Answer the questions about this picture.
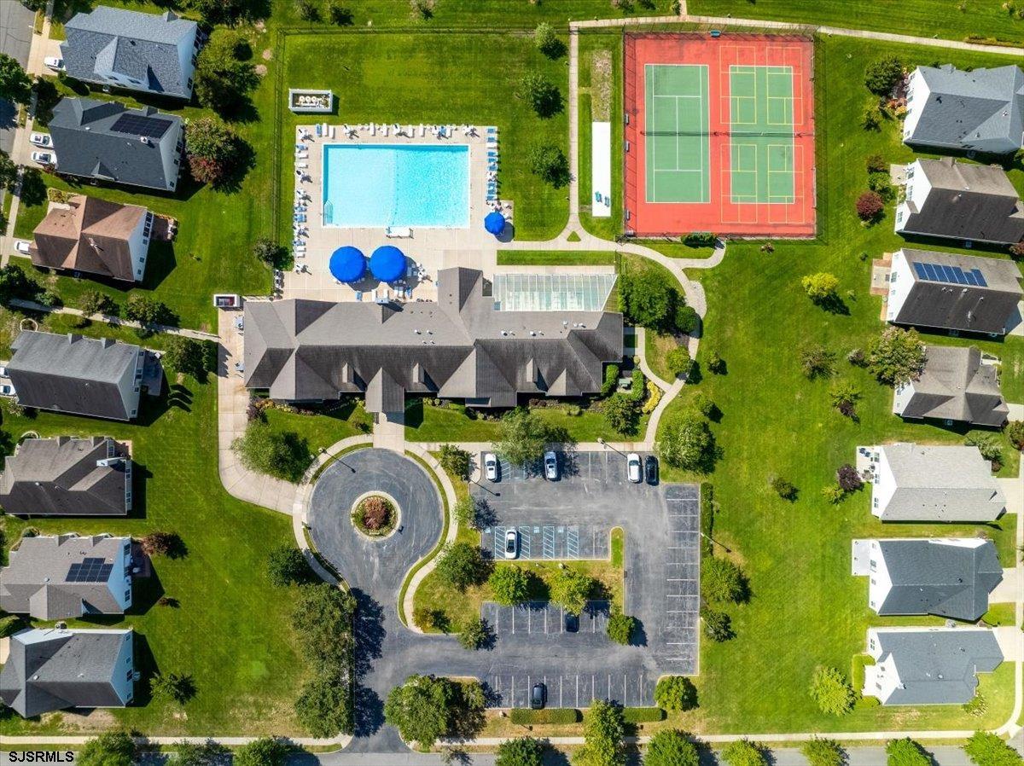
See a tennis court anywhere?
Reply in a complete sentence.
Yes, you can see a tennis court in this photo.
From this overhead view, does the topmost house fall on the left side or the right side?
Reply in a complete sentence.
The topmost house sits on the left side.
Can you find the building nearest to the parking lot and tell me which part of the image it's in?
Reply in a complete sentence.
The building nearest to the parking lot is located in the center region of the scene.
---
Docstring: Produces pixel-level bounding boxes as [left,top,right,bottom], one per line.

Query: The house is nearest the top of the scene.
[56,5,203,104]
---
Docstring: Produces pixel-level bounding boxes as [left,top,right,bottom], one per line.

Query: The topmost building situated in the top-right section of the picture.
[901,63,1024,156]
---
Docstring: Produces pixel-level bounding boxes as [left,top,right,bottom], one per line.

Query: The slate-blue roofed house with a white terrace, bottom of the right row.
[869,628,1003,705]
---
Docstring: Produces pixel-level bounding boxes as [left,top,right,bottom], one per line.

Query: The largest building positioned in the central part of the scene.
[245,266,623,413]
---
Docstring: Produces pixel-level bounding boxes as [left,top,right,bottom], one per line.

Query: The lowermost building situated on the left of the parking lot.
[0,628,134,717]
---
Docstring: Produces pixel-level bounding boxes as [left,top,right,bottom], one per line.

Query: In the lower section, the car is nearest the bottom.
[532,681,545,710]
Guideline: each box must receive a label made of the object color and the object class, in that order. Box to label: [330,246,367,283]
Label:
blue umbrella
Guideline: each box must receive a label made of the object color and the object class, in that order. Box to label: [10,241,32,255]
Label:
white car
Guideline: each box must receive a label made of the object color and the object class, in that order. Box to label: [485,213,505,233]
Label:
blue umbrella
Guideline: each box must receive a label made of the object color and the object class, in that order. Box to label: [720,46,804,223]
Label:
green sports court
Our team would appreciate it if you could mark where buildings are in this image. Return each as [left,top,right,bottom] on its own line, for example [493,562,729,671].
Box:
[872,442,1010,521]
[0,628,134,717]
[889,155,1024,245]
[0,533,133,622]
[0,436,135,514]
[56,5,203,104]
[886,248,1024,337]
[44,93,189,193]
[870,539,1005,623]
[31,192,155,281]
[901,63,1024,156]
[869,628,1003,705]
[245,266,623,413]
[0,331,148,421]
[892,347,1015,426]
